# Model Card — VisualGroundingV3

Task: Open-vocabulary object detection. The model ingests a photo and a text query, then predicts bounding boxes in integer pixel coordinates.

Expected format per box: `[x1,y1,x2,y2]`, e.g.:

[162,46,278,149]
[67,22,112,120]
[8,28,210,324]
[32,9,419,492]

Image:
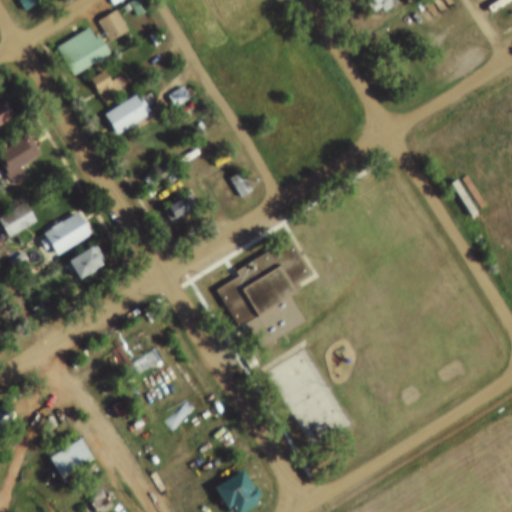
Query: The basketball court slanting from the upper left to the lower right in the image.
[270,351,352,442]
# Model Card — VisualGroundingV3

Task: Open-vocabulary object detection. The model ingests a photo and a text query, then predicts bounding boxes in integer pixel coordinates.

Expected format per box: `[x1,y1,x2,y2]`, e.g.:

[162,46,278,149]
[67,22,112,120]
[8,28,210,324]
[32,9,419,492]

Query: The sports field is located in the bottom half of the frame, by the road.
[290,163,502,458]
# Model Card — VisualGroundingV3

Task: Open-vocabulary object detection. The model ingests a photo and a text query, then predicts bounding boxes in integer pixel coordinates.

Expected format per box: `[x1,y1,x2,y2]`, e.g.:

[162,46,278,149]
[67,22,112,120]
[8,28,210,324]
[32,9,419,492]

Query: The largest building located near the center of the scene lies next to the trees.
[216,242,310,345]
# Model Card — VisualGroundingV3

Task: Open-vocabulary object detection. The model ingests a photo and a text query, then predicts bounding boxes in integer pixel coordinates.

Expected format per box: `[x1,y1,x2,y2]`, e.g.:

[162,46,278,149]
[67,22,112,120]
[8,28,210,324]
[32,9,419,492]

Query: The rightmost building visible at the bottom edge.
[219,470,261,512]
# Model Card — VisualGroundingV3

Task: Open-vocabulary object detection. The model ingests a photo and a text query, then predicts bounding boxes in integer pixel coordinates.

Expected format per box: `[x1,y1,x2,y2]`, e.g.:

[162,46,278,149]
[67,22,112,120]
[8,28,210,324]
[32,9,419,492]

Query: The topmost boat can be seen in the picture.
[118,332,132,358]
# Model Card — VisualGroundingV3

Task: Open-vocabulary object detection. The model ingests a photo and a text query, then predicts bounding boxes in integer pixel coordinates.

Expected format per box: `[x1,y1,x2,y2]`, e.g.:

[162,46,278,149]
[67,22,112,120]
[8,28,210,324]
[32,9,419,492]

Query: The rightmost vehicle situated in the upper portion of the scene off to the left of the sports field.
[214,155,232,167]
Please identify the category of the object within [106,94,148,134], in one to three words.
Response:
house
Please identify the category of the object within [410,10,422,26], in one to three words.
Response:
vehicle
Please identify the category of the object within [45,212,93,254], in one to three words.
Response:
house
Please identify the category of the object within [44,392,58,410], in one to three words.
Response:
vehicle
